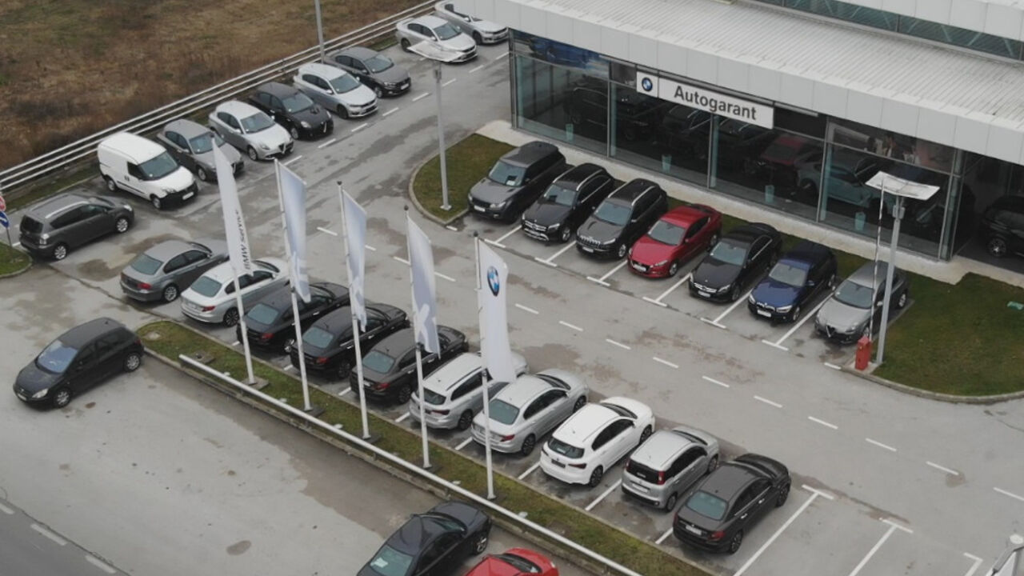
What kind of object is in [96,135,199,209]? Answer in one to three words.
van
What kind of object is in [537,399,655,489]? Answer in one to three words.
car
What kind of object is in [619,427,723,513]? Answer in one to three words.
car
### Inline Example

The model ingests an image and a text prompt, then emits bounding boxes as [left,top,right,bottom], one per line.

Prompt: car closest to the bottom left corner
[12,317,146,410]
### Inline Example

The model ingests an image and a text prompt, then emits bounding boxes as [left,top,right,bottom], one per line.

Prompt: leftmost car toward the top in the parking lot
[15,194,133,261]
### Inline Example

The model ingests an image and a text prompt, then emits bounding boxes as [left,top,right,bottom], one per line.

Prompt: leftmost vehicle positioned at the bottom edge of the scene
[340,500,493,576]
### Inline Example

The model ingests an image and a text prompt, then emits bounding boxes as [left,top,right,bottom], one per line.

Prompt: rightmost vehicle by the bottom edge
[673,454,795,558]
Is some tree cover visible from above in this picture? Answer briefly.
No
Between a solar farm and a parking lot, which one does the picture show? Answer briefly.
parking lot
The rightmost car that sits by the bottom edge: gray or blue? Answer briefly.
gray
